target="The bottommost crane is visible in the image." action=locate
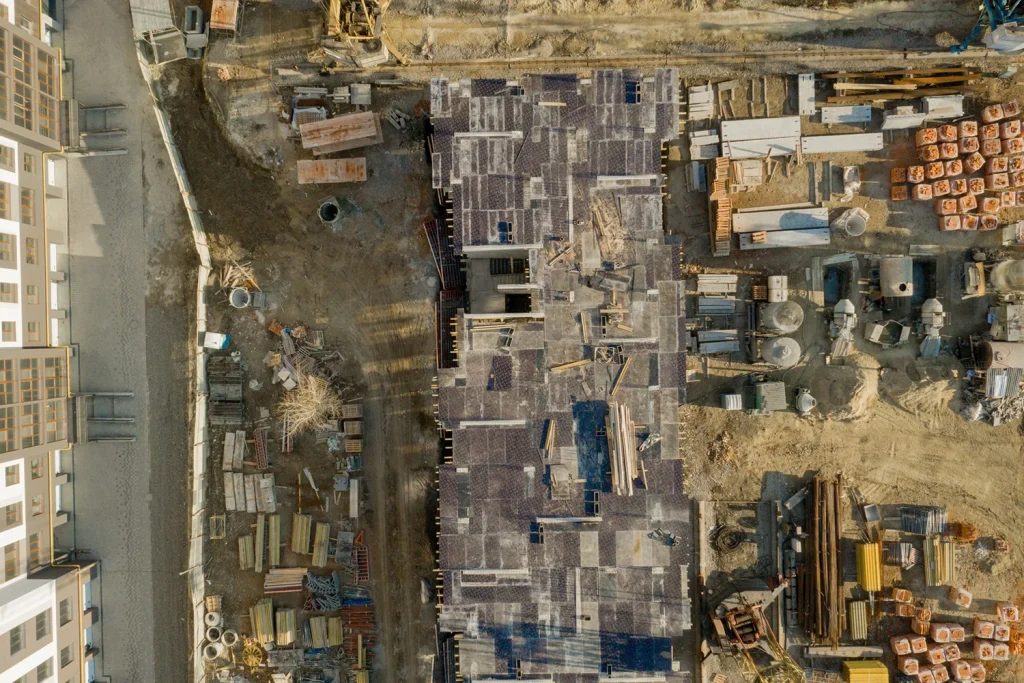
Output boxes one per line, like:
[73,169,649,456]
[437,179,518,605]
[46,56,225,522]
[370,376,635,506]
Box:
[702,574,810,683]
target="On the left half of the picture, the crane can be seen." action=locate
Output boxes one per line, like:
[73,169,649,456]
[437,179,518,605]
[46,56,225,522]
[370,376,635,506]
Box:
[314,0,412,72]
